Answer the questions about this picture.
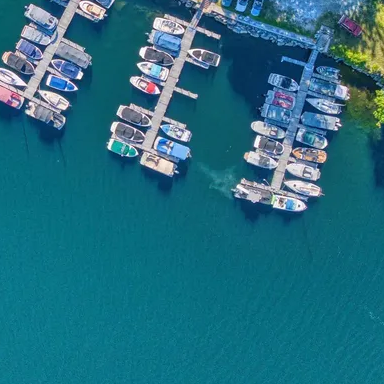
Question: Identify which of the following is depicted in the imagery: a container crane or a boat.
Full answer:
The image shows a boat.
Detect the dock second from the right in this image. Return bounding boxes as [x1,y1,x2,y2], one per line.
[111,6,221,163]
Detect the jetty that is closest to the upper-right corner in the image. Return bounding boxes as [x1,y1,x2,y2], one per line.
[239,46,342,202]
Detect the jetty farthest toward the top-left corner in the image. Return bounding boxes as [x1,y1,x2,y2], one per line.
[0,0,97,113]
